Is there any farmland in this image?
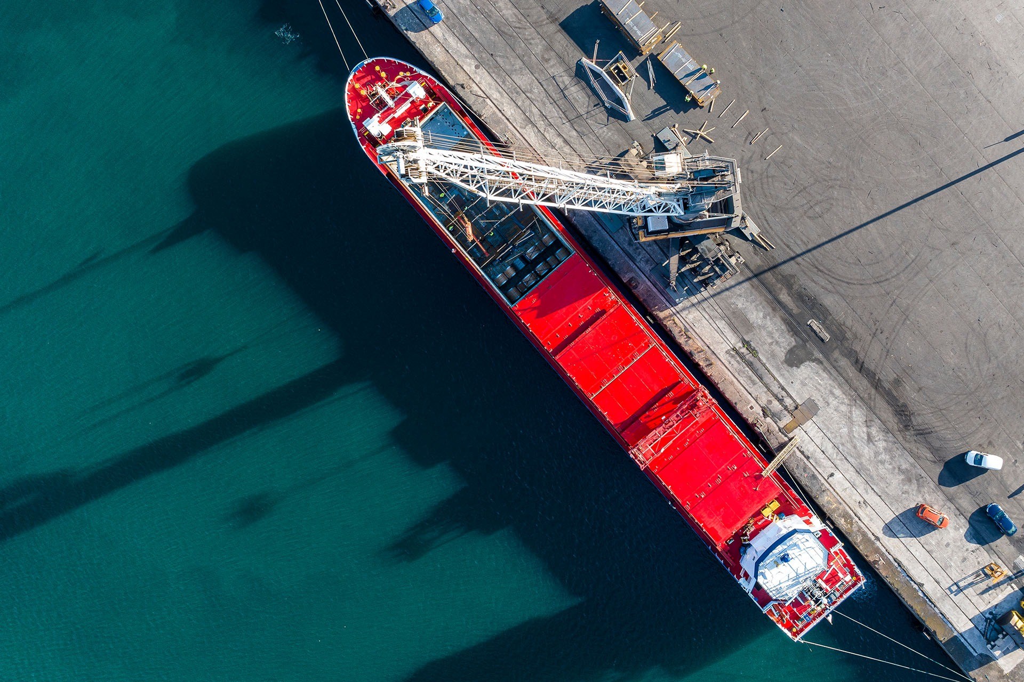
No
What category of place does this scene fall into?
port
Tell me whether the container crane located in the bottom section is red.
Yes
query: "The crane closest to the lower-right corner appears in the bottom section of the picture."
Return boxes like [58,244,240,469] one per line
[620,378,725,477]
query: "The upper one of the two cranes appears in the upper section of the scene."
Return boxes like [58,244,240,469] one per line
[376,111,759,293]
